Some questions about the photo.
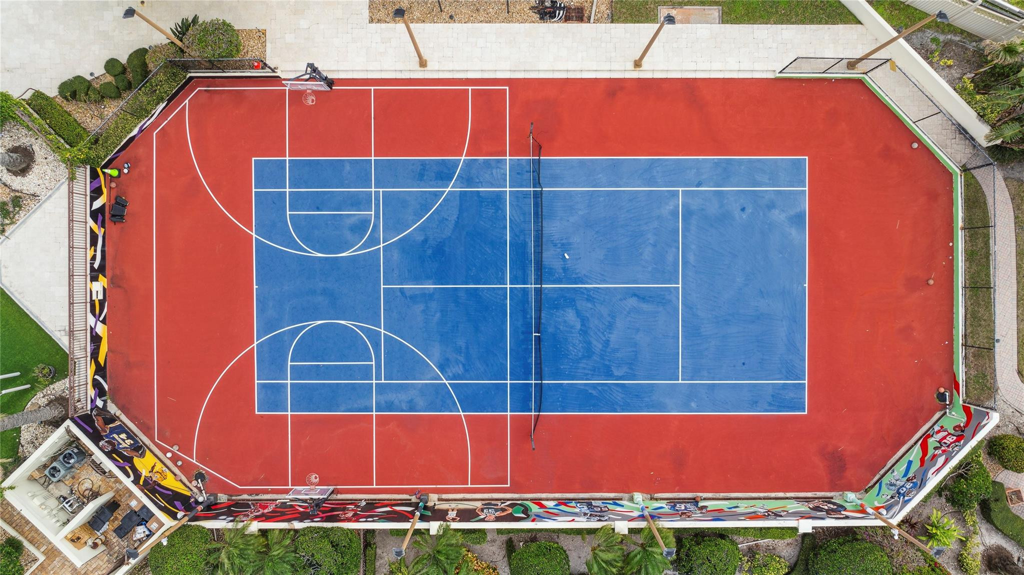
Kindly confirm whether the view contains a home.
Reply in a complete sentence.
No, there appears to be no home in this shot.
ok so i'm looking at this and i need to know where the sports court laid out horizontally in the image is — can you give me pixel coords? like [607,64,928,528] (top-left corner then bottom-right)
[107,78,954,495]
